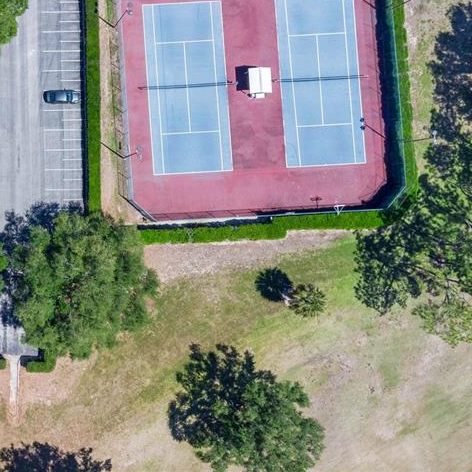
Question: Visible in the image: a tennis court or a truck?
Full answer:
It is a tennis court that can be seen here.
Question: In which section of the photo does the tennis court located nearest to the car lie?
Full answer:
The tennis court located nearest to the car is in the top part of the image.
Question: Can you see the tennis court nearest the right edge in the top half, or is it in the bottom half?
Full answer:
The top half of the photo is where the tennis court nearest the right edge is.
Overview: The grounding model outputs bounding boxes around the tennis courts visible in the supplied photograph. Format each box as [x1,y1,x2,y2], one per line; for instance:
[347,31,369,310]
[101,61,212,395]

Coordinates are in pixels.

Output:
[142,0,232,175]
[275,0,366,167]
